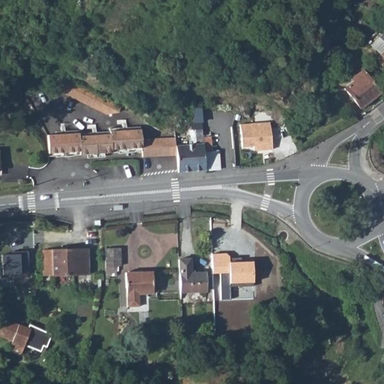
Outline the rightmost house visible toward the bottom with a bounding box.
[211,252,256,301]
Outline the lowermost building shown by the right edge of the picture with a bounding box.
[340,70,382,110]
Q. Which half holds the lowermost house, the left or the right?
left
